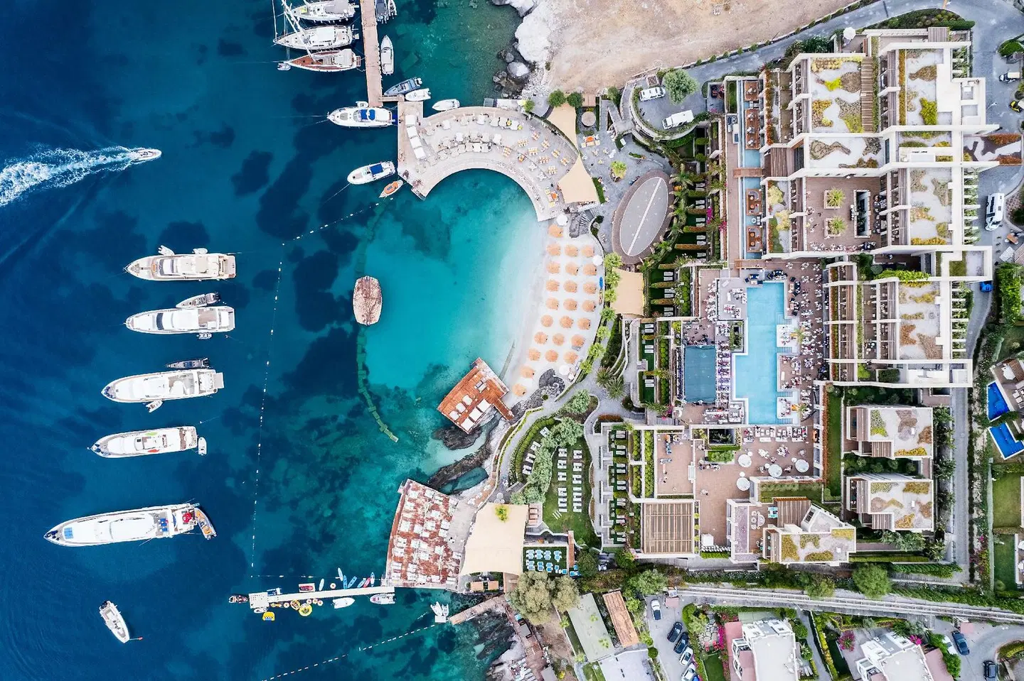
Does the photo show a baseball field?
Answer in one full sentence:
No, the photo shows no baseball field.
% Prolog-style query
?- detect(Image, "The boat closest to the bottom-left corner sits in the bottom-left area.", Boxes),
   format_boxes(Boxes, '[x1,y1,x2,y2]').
[97,599,129,643]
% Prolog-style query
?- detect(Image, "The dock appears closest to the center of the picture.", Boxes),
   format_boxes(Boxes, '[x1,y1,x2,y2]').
[437,357,513,434]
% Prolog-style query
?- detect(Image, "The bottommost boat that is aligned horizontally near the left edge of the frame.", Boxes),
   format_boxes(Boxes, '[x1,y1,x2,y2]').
[44,503,210,541]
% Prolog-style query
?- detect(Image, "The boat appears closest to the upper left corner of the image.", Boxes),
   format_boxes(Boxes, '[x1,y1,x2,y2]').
[128,149,162,161]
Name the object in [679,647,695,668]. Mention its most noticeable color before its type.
white car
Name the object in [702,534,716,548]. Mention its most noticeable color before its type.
white gazebo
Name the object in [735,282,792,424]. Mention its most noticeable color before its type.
blue swimming pool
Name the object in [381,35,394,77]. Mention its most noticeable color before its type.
white boat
